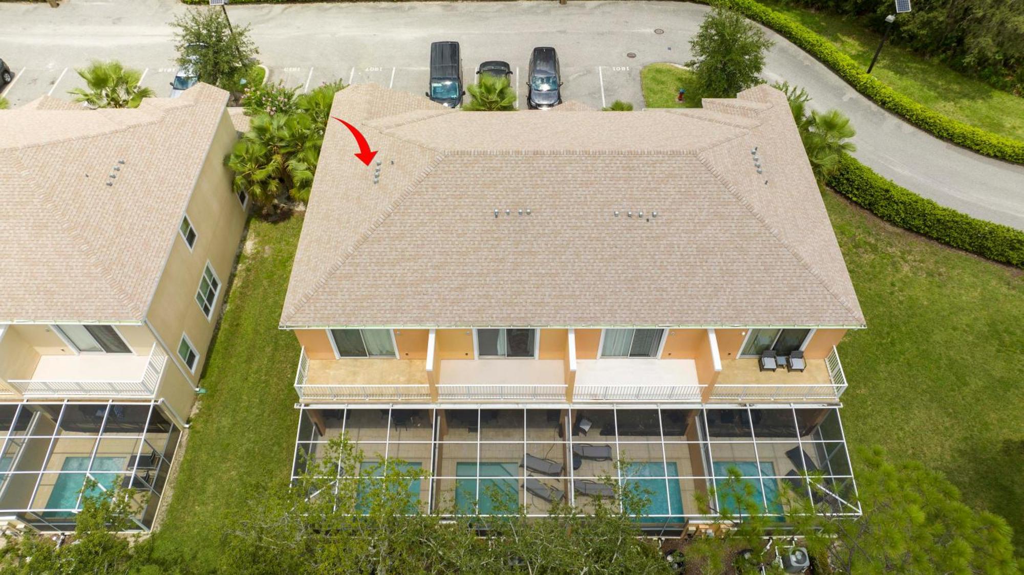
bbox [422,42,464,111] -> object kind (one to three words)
van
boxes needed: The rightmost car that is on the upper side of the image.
[525,50,566,111]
